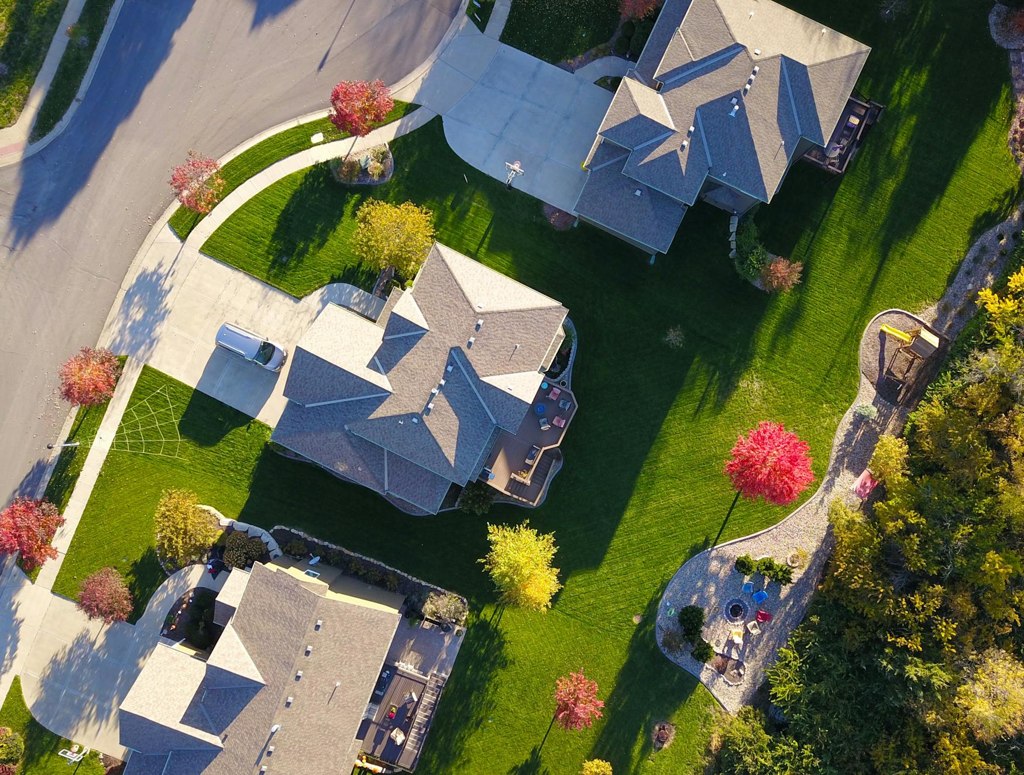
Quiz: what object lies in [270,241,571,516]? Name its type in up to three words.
house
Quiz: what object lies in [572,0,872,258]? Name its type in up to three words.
house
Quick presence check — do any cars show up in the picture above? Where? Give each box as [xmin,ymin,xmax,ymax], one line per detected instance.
[209,319,291,374]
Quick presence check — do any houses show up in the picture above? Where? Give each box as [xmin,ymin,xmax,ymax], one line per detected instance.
[270,241,571,516]
[119,550,403,775]
[572,0,872,258]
